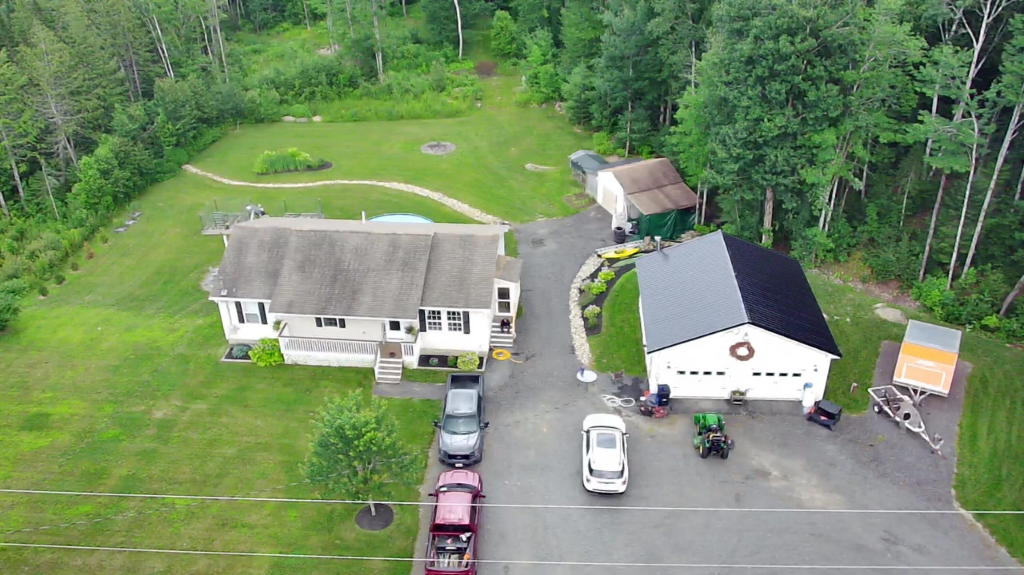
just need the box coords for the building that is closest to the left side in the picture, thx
[209,213,522,369]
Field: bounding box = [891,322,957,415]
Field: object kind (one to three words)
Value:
trailer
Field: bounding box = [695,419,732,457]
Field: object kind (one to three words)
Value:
work vehicle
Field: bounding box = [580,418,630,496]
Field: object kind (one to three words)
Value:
car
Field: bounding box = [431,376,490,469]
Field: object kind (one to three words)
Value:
truck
